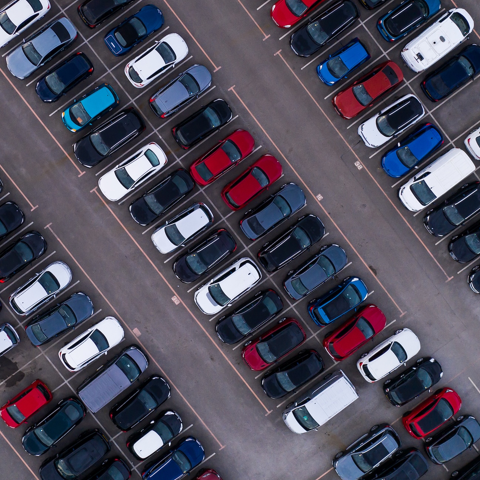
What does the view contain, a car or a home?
car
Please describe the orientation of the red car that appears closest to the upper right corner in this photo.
diagonally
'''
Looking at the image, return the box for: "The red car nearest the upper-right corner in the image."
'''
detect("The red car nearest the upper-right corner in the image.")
[331,57,404,119]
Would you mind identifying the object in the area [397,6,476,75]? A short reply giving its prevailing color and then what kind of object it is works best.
white van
